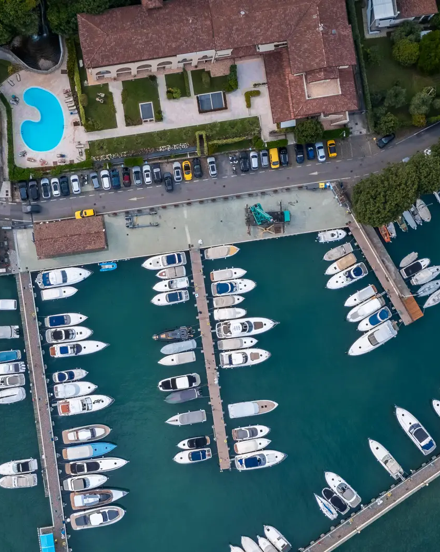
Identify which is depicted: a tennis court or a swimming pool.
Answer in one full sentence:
I can see a swimming pool in this picture.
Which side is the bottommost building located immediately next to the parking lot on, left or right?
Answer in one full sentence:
The bottommost building located immediately next to the parking lot sits on the left side.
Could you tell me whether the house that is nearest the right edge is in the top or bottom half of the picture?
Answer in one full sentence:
It is in the top half that the house that is nearest the right edge appears.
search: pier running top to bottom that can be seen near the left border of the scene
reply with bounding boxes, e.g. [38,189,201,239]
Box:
[16,271,69,552]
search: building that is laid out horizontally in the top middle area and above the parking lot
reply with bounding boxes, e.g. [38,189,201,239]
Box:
[76,0,357,126]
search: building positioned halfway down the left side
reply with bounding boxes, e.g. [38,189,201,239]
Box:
[33,215,107,259]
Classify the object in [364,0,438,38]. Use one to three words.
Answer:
house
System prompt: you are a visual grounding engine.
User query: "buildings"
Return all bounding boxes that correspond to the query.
[76,0,357,126]
[33,215,107,259]
[364,0,438,38]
